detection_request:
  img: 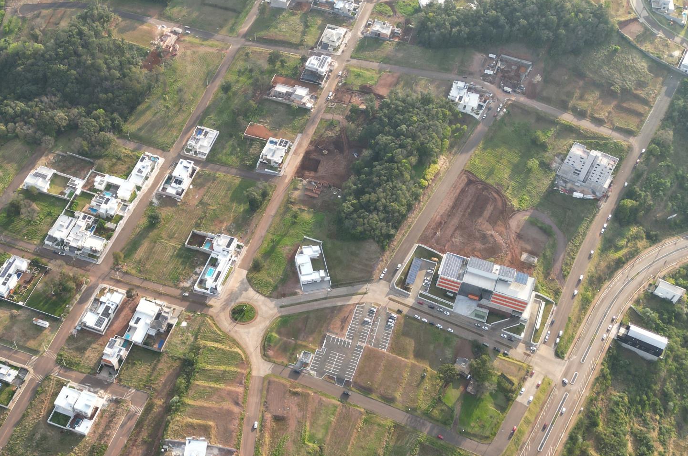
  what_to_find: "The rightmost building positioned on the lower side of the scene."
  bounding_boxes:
[650,279,683,308]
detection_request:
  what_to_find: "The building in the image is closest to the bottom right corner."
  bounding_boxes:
[609,324,666,365]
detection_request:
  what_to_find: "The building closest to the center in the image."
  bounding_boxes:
[296,245,325,290]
